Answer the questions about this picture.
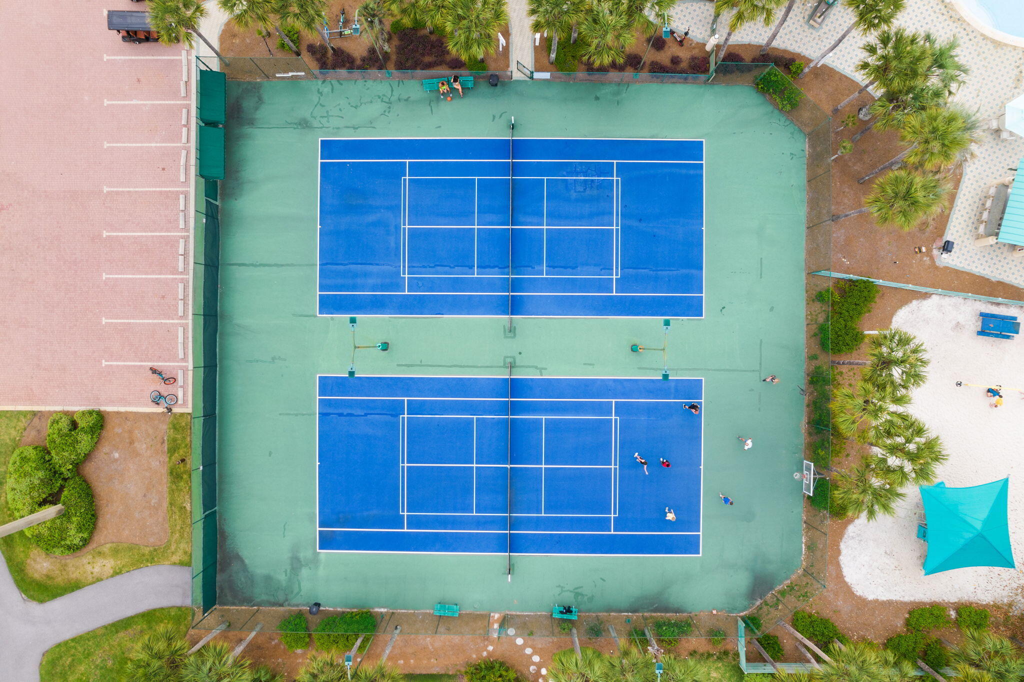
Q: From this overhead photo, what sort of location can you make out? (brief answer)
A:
sports ground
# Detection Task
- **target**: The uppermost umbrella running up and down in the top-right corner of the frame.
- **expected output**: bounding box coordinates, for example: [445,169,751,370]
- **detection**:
[999,91,1024,145]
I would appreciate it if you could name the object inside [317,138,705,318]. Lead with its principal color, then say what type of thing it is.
blue tennis court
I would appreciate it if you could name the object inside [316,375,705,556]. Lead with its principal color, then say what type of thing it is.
blue tennis court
